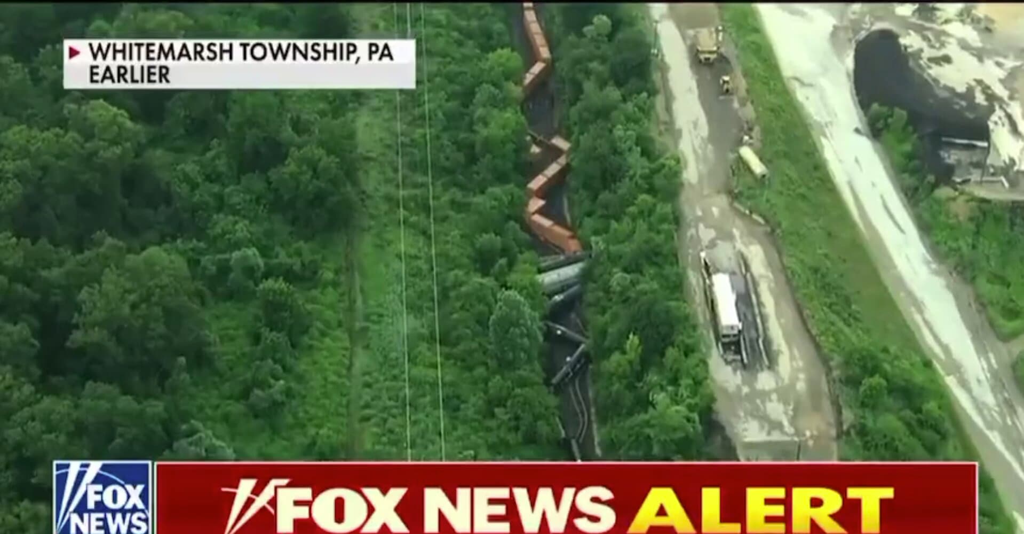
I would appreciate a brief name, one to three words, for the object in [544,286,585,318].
rail car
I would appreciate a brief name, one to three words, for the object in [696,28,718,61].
truck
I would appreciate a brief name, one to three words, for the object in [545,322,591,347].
rail car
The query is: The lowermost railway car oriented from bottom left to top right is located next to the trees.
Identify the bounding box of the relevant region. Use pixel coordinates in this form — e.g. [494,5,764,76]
[553,346,594,390]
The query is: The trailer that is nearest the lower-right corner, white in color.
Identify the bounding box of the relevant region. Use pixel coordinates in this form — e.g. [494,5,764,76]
[711,273,739,337]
